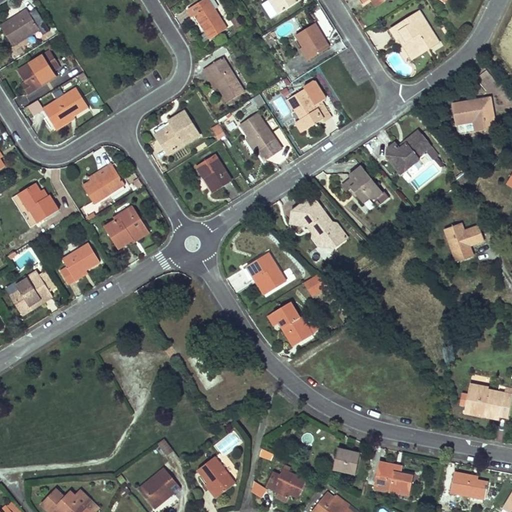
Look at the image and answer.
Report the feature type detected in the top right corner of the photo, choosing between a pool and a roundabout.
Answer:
pool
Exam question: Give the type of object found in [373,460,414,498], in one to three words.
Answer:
house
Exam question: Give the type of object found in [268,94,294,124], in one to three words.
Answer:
swimming pool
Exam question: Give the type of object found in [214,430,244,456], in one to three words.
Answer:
swimming pool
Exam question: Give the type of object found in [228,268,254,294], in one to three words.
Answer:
building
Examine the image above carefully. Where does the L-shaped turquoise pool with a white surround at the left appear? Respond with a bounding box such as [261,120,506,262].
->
[13,248,42,272]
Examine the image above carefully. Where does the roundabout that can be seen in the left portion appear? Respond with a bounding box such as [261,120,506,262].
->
[168,218,218,272]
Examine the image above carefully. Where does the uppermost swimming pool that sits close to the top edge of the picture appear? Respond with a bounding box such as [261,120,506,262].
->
[274,18,300,40]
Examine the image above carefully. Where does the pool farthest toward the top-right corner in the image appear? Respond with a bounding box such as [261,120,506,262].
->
[386,52,416,76]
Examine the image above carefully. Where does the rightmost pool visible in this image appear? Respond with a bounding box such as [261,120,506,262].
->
[402,154,444,192]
